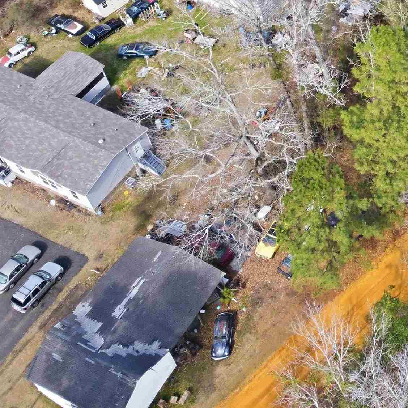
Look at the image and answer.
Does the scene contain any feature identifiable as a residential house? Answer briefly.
Yes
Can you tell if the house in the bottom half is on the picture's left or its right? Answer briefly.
left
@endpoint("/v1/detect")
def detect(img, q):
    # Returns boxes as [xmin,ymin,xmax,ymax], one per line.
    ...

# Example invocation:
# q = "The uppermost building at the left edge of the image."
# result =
[0,50,157,211]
